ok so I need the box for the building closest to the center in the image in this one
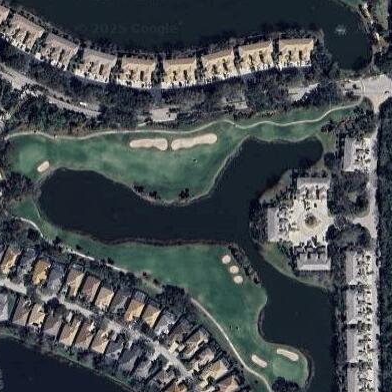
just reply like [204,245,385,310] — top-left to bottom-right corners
[268,207,288,241]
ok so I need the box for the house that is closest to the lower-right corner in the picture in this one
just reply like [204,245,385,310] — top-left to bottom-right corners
[343,368,364,392]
